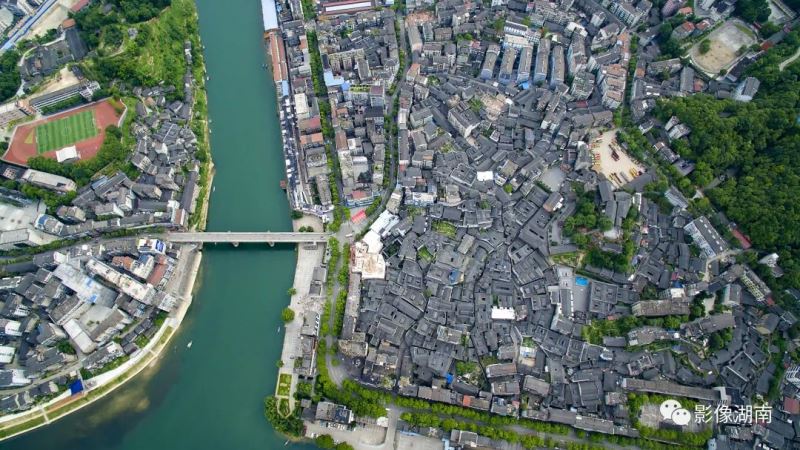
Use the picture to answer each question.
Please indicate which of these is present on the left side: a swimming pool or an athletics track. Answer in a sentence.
There is an athletics track on the left side.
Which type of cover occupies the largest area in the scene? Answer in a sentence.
The scene is dominated by buildings.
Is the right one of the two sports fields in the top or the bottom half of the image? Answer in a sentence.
Seen from above, the right one of the two sports fields lies in the top half of the view.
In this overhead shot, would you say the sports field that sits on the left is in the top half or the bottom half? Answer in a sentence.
Seen from above, the sports field that sits on the left lies in the top half of the view.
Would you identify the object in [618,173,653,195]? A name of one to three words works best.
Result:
house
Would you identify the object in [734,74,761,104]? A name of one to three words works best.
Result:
building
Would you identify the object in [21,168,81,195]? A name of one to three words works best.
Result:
building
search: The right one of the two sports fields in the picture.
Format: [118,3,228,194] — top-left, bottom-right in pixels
[691,16,758,73]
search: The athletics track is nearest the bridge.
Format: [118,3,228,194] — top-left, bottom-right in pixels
[2,97,126,165]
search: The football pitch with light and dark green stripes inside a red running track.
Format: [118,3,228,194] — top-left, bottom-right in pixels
[2,97,126,165]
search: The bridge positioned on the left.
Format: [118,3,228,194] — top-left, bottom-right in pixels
[162,229,328,249]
